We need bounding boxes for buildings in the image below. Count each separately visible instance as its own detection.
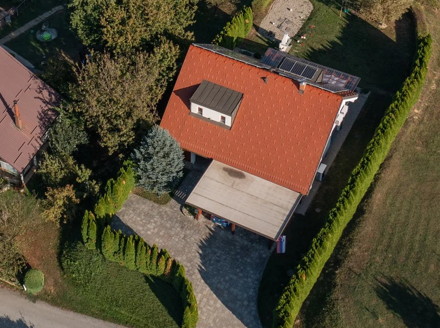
[159,44,359,207]
[0,46,72,204]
